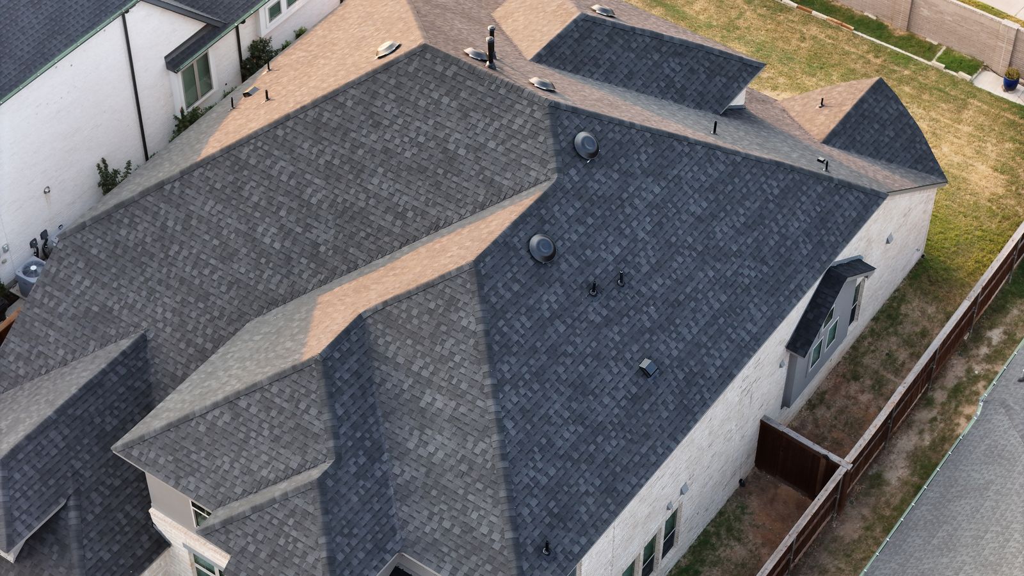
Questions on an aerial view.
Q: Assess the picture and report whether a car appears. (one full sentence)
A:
No, no car is visible in the scene.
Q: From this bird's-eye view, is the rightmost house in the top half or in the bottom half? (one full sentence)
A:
It is in the bottom half that the rightmost house appears.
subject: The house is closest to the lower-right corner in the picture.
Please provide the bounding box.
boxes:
[857,337,1024,576]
